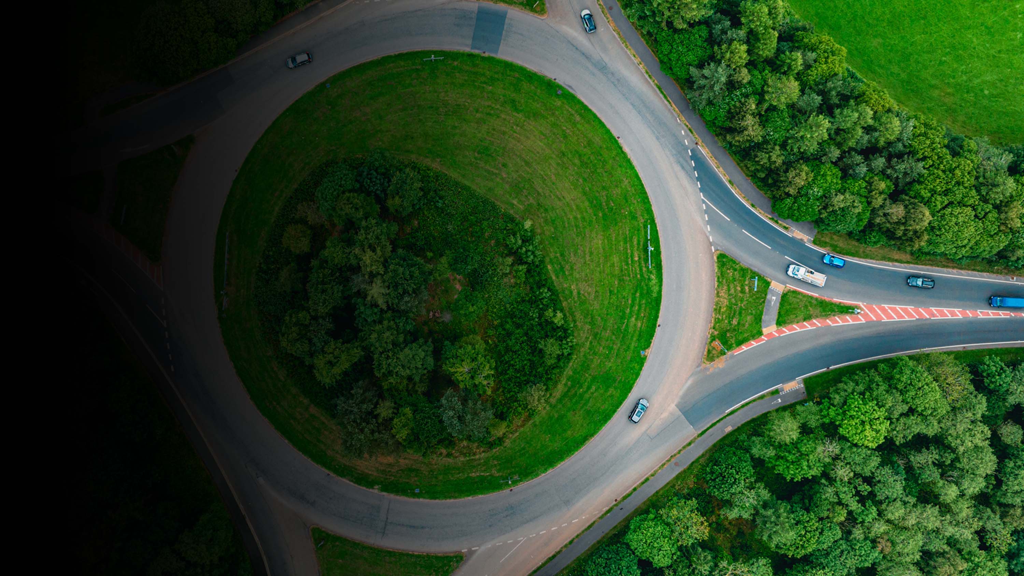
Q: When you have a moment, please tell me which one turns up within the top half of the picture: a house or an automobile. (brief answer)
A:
automobile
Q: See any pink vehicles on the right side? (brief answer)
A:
No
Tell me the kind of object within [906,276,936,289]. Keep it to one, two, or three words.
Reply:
vehicle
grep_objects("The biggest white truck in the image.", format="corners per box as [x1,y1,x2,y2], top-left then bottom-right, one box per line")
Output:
[785,263,828,288]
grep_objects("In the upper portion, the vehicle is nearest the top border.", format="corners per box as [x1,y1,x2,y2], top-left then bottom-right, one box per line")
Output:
[581,9,597,34]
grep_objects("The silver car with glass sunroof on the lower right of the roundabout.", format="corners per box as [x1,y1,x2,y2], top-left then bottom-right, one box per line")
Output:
[629,398,648,425]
